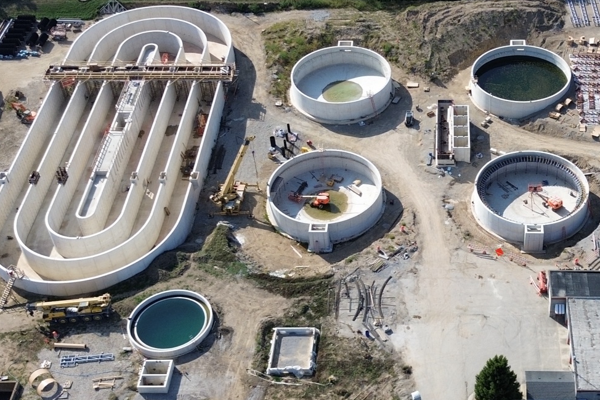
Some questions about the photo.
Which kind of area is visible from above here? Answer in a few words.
industrial area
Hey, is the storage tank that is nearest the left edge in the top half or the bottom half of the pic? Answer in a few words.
bottom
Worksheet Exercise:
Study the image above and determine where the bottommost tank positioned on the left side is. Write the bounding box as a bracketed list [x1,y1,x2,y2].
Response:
[127,289,217,361]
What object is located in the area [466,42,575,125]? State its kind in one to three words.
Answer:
storage tank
